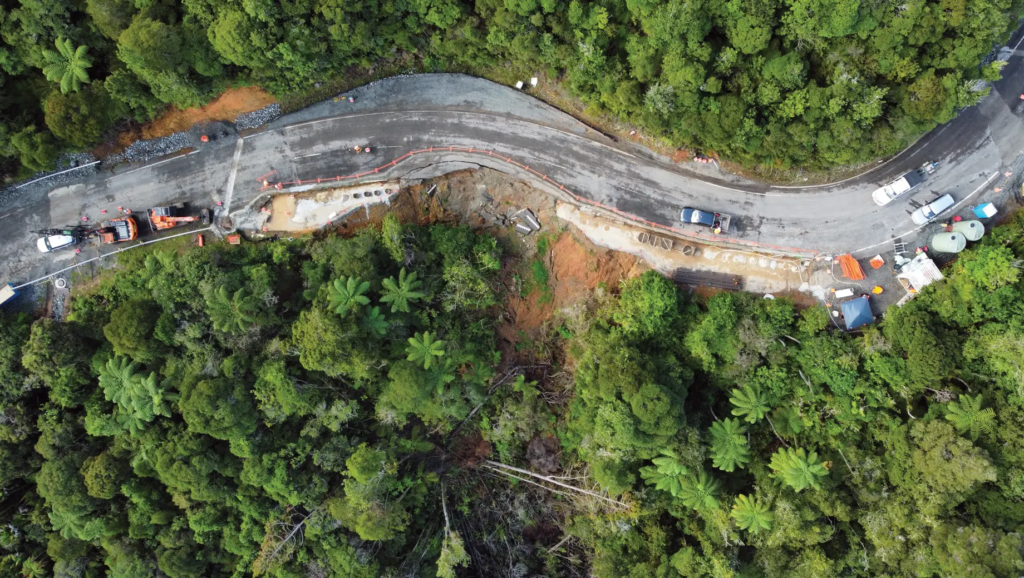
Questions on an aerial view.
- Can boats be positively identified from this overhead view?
No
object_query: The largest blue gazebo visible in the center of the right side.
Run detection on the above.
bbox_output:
[840,296,874,329]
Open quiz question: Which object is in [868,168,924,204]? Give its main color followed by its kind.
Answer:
white truck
